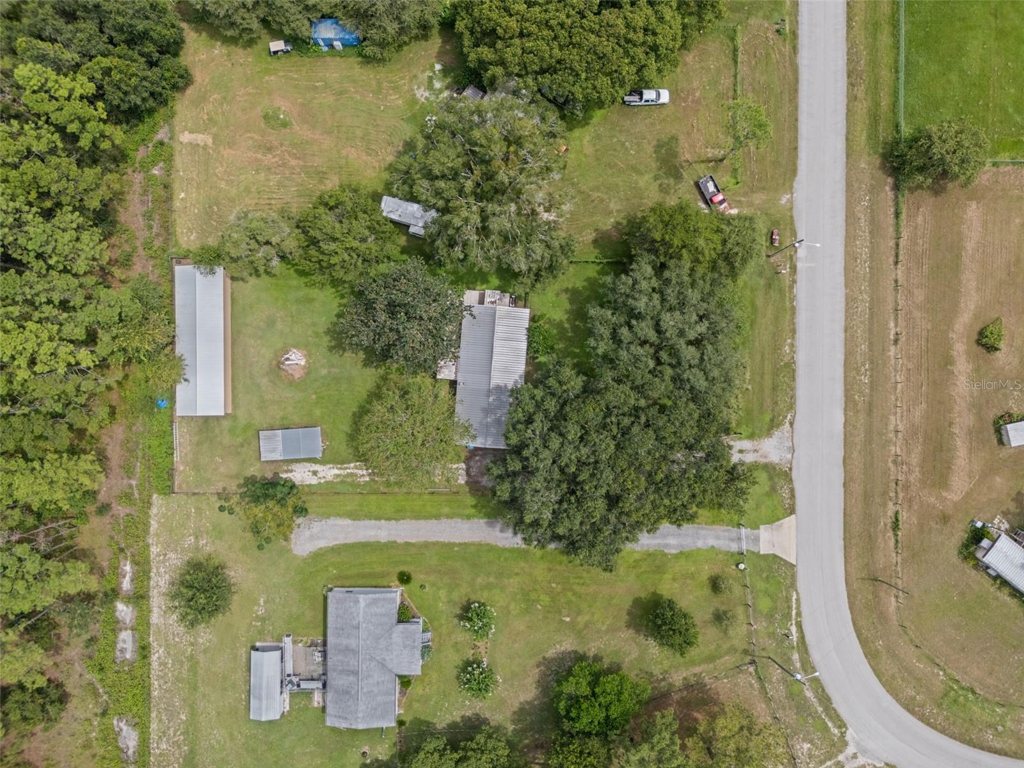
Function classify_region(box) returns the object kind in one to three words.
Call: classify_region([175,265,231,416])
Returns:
barn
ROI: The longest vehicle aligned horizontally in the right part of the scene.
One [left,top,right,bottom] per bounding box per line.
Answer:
[622,87,669,108]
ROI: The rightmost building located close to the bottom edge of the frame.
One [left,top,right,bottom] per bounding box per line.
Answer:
[326,585,422,731]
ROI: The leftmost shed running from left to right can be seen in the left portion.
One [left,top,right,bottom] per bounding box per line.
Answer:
[259,427,323,460]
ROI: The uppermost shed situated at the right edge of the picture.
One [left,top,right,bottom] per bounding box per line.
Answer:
[988,417,1024,447]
